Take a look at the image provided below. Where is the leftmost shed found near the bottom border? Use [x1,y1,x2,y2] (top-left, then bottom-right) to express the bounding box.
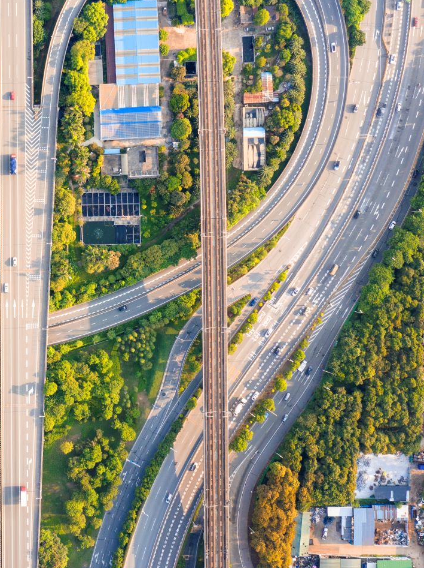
[289,509,311,556]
